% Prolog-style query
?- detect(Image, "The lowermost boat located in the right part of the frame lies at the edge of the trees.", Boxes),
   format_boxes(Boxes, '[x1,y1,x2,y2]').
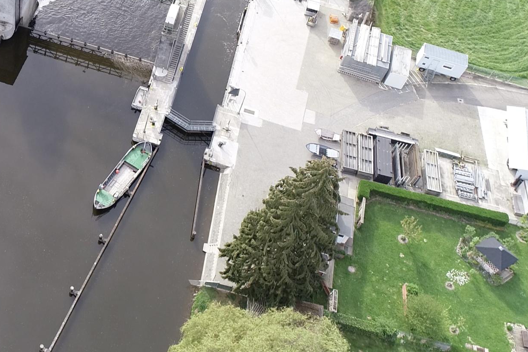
[305,142,340,160]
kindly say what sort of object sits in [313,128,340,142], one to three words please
boat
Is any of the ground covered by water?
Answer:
Yes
